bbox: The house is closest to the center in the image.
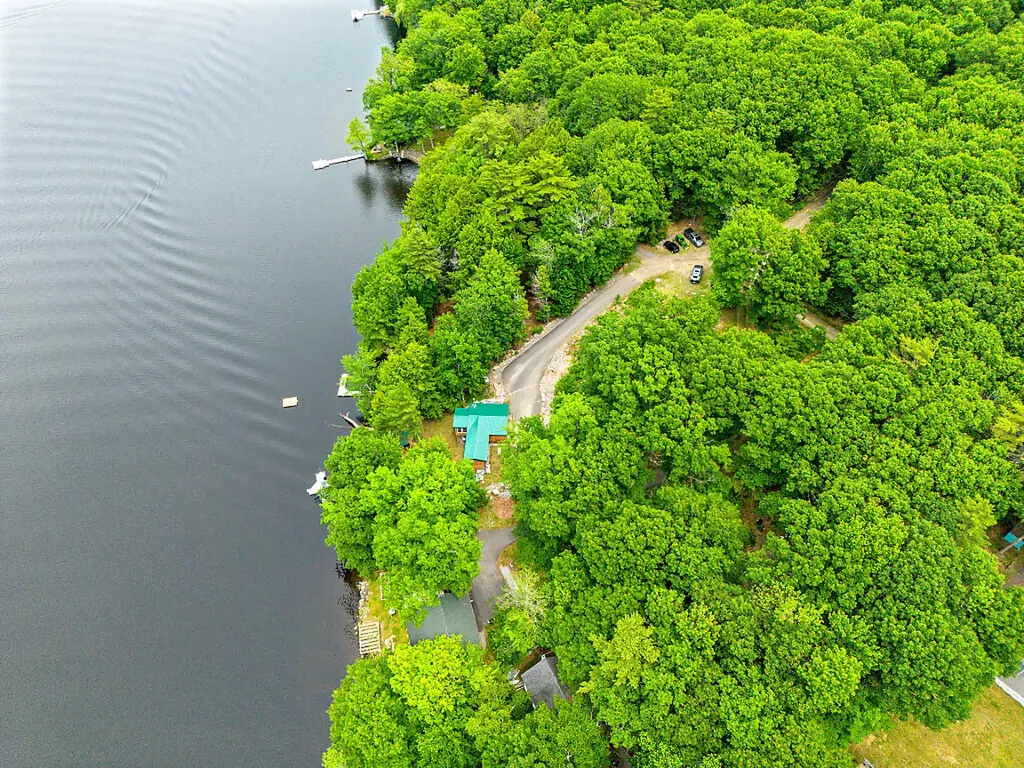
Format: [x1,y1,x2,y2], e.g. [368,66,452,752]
[453,403,509,468]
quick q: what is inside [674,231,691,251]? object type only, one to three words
work vehicle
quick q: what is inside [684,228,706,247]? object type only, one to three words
vehicle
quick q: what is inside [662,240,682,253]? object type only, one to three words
vehicle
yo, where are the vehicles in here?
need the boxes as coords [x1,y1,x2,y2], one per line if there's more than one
[674,231,691,251]
[684,228,706,247]
[662,240,682,253]
[691,266,702,283]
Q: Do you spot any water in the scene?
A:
Yes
